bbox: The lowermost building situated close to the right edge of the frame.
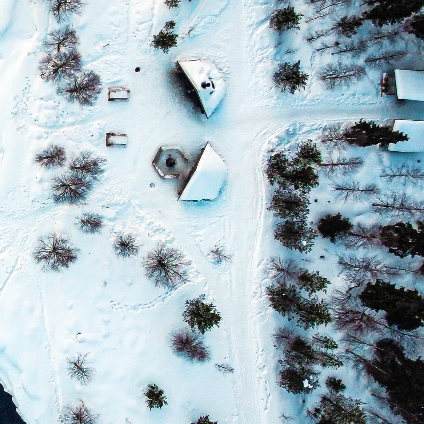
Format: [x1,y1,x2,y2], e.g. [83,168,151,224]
[385,119,424,153]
